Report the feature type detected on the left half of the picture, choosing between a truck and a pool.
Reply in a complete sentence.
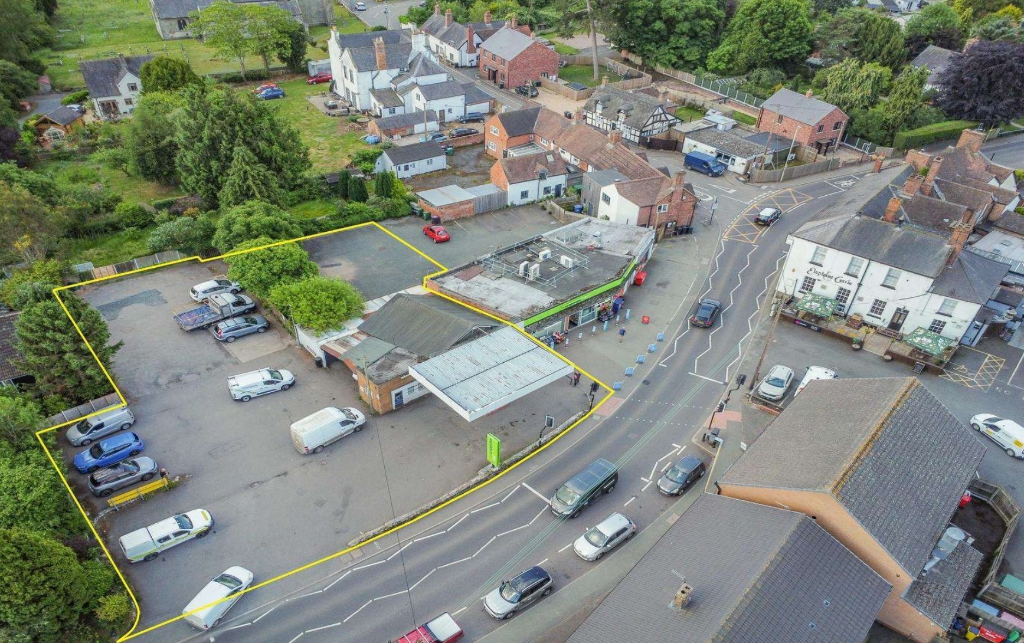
There is a truck on the left half of the picture.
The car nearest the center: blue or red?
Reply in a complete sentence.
In this view, the car nearest the center is red.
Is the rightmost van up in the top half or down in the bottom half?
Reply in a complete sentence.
You can find the rightmost van in the bottom half.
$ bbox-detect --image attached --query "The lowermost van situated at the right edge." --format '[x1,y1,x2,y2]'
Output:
[970,410,1024,461]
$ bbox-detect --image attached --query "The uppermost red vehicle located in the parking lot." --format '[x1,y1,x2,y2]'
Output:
[422,221,453,244]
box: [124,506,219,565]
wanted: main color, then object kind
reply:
white truck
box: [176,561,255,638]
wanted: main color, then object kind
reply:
white van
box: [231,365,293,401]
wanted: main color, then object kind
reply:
white van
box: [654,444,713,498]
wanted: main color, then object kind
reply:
gray car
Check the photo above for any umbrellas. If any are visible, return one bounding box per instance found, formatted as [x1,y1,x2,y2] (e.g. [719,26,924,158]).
[904,327,951,359]
[794,290,838,321]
